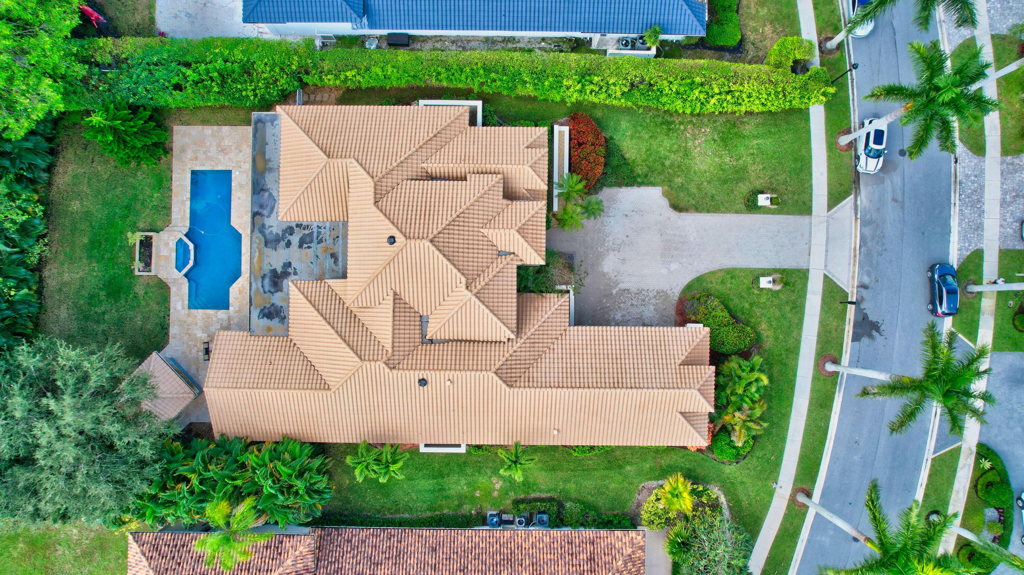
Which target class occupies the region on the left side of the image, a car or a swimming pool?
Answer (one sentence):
There is a swimming pool on the left side of the image.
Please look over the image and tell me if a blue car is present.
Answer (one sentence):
Yes, the frame does contain a blue car.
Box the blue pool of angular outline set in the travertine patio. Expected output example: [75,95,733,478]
[184,170,242,310]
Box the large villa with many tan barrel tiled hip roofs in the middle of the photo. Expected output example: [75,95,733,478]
[202,103,718,448]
